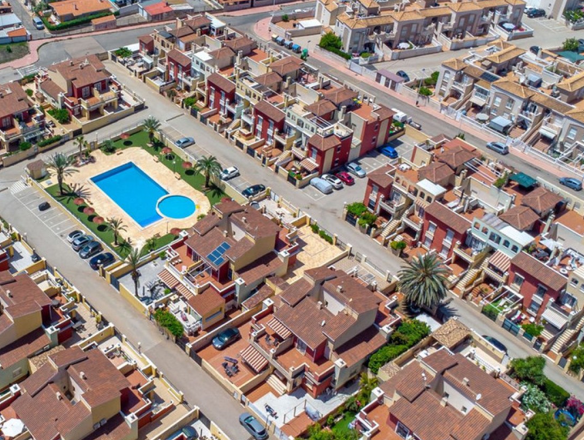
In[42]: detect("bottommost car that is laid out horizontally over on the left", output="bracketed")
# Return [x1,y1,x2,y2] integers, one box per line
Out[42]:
[167,425,202,440]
